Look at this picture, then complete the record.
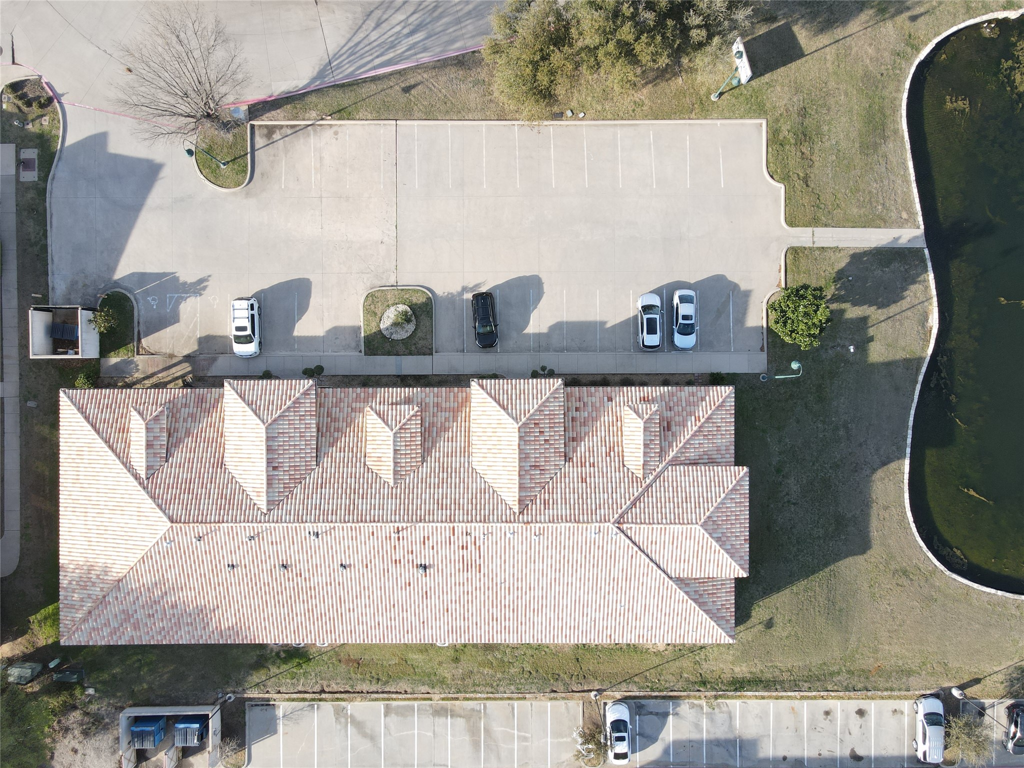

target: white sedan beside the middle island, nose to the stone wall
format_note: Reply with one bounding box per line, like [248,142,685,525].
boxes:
[605,701,633,763]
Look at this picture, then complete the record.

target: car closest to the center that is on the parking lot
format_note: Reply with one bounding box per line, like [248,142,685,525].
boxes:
[471,291,500,349]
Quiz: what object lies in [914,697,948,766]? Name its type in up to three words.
car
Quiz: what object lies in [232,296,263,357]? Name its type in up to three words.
car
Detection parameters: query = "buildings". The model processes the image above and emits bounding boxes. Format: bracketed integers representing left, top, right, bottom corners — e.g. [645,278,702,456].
[57,377,750,646]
